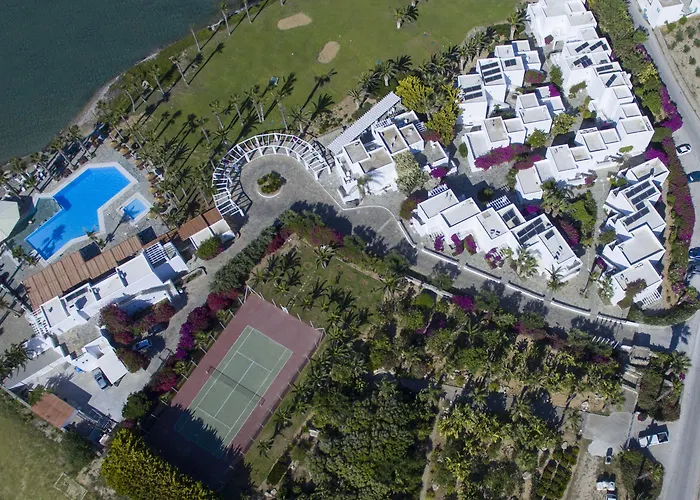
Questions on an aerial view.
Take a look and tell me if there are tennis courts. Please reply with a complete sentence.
Yes, there is a tennis court in the image.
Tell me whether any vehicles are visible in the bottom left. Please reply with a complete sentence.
Yes, there is a vehicle in the bottom left.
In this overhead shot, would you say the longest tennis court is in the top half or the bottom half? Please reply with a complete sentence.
It is in the bottom half that the longest tennis court appears.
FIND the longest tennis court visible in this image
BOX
[139,290,324,496]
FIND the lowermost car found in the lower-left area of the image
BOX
[90,369,107,388]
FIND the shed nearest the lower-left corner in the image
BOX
[33,391,79,432]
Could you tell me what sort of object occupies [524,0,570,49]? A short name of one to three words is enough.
house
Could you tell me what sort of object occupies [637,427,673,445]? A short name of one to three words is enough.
vehicle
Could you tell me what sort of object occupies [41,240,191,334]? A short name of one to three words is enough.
building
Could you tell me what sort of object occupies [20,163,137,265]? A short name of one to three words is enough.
swimming pool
